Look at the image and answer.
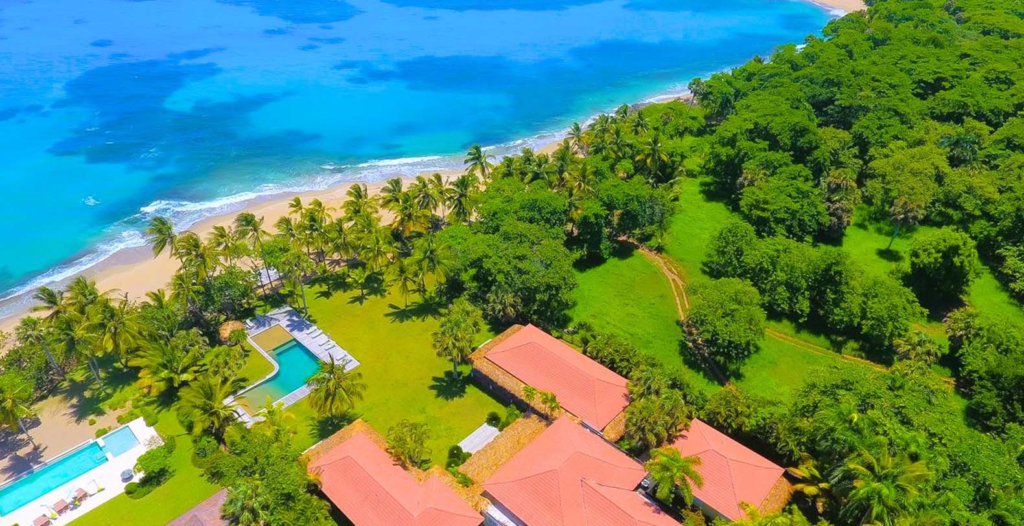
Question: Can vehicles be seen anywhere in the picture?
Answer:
No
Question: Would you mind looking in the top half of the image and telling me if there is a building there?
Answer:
No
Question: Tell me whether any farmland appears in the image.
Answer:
No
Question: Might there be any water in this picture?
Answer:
Yes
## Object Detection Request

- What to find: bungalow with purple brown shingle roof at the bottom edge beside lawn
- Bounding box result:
[169,488,259,526]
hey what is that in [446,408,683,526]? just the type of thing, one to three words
house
